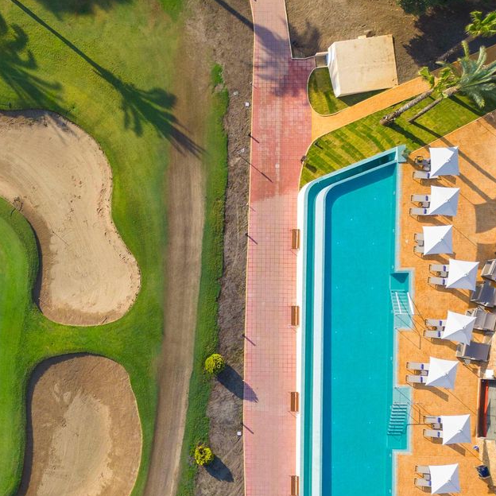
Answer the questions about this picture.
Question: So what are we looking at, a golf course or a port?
golf course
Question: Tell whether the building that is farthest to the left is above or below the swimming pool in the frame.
above it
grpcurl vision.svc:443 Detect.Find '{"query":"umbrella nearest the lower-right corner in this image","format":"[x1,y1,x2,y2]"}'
[429,464,459,494]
